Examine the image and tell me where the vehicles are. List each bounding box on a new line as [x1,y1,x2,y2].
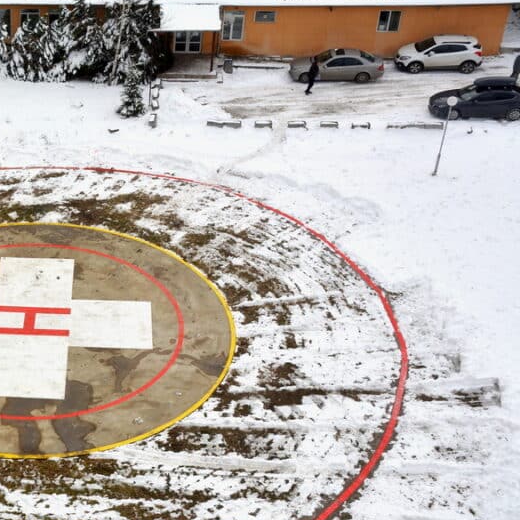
[289,46,385,82]
[430,82,520,120]
[395,33,485,73]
